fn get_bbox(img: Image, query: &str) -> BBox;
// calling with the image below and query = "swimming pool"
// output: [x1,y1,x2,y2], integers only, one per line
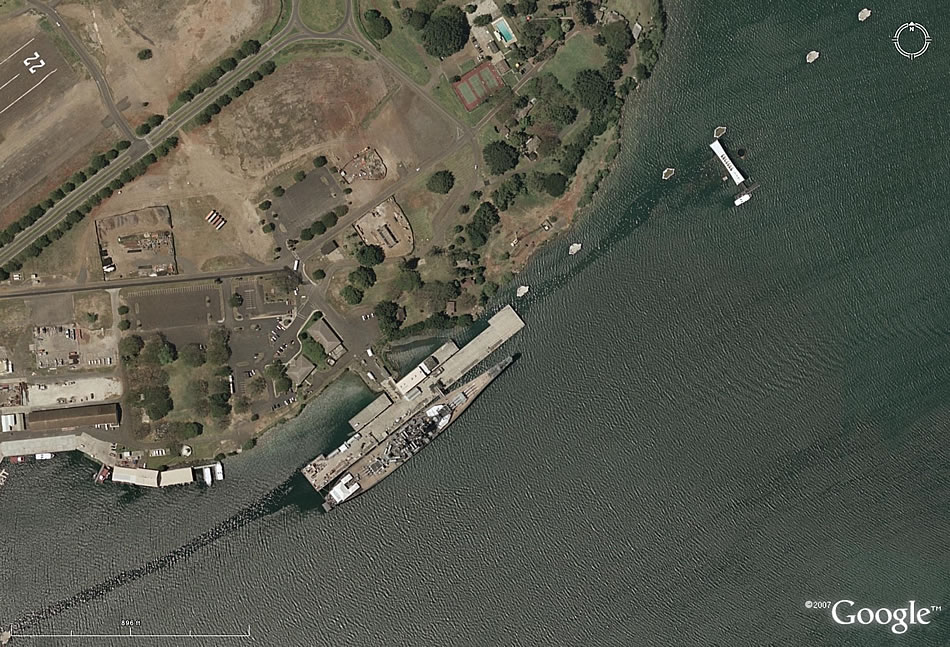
[492,17,517,47]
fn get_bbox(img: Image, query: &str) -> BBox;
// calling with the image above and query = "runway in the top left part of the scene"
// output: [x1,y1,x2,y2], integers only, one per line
[0,25,81,123]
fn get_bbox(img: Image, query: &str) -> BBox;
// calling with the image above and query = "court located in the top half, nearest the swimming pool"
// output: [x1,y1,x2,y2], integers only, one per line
[453,61,506,110]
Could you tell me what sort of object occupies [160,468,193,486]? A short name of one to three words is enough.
building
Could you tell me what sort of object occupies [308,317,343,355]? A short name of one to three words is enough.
building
